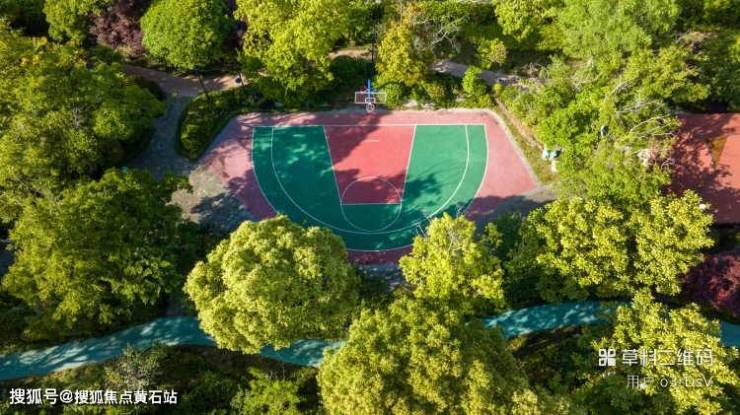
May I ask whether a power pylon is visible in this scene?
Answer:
No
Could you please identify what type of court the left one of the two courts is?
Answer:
basketball court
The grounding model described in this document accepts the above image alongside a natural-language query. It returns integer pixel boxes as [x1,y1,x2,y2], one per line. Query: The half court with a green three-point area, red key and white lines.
[206,107,542,264]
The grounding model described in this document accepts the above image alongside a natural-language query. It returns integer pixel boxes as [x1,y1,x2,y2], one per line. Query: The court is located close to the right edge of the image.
[634,112,740,224]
